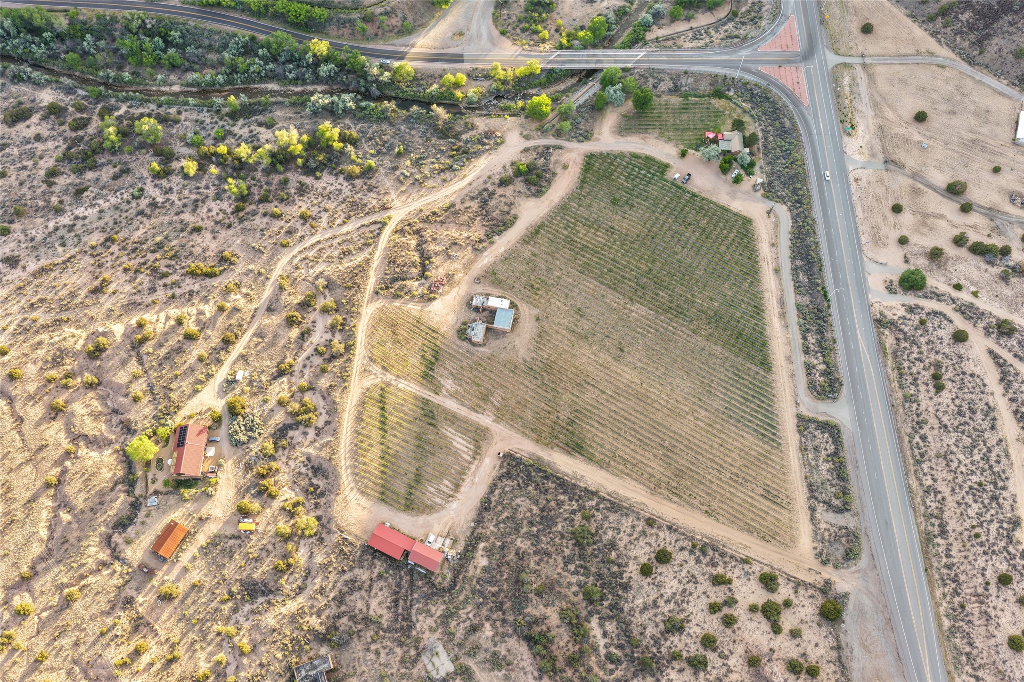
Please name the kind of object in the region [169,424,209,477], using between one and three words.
house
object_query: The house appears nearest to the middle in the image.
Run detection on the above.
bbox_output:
[466,295,514,344]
